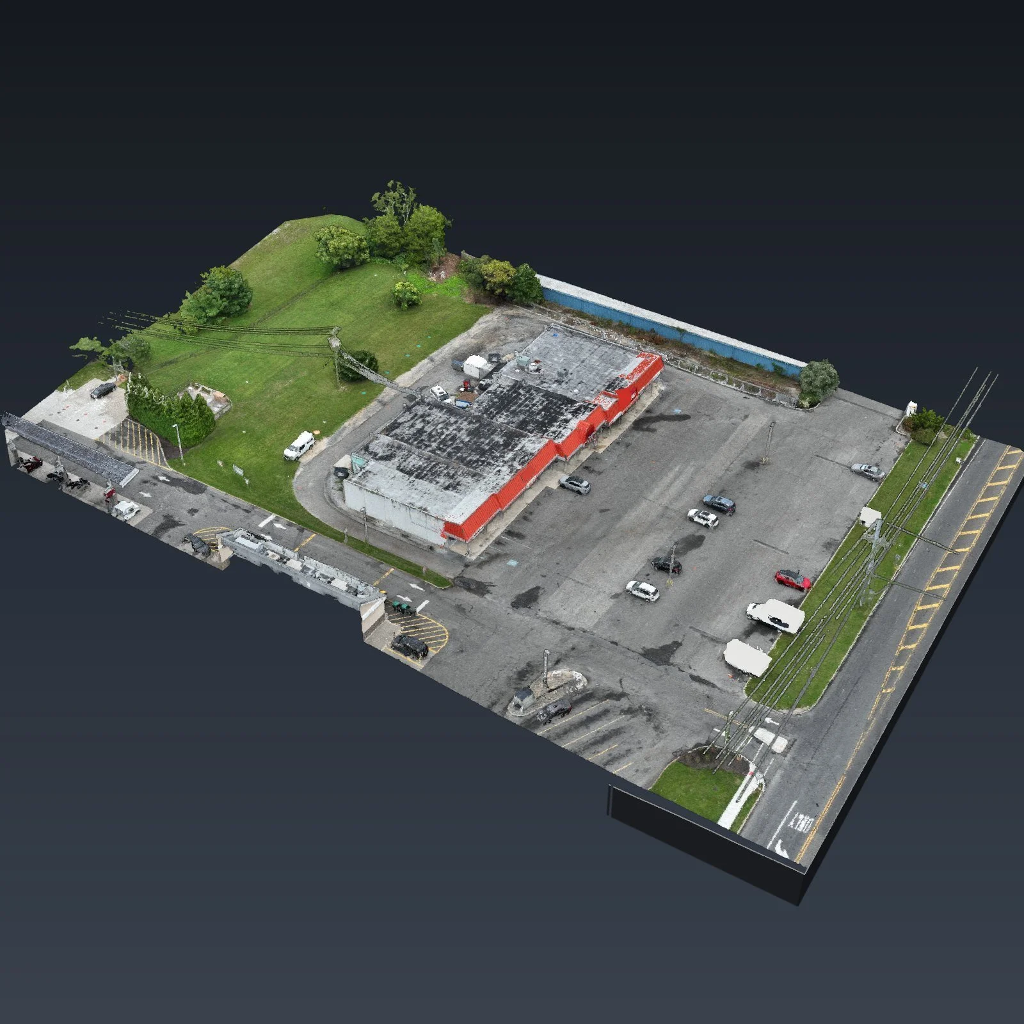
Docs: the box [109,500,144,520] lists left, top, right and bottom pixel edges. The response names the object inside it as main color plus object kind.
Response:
white vehicle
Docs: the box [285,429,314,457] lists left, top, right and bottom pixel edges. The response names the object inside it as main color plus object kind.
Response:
white truck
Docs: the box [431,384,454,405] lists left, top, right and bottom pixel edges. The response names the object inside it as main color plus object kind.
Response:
white car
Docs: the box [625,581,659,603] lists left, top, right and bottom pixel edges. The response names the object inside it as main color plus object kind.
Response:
white car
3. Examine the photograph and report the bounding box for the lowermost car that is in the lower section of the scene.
[536,697,575,724]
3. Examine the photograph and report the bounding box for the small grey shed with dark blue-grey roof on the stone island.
[511,684,536,711]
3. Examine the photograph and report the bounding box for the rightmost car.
[852,465,885,482]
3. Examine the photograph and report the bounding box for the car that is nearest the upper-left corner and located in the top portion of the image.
[89,380,119,399]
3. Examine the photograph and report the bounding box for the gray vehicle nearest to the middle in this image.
[560,477,590,495]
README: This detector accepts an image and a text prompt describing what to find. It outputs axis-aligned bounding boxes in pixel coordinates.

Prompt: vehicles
[461,370,476,389]
[15,455,45,471]
[687,509,719,529]
[390,635,429,657]
[109,500,144,520]
[703,495,737,515]
[536,697,575,724]
[746,598,805,634]
[852,465,885,482]
[64,478,93,494]
[721,638,772,675]
[625,581,659,603]
[560,477,590,495]
[774,568,811,592]
[285,429,314,457]
[46,471,70,487]
[431,384,454,405]
[181,536,211,557]
[89,380,119,399]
